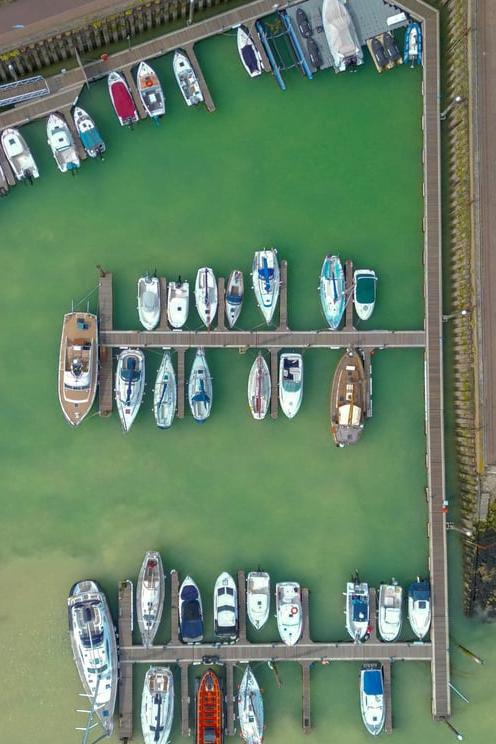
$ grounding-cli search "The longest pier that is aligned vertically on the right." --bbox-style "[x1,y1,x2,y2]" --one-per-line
[424,10,450,717]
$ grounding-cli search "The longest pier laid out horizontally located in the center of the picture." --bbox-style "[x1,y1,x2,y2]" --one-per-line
[113,330,427,348]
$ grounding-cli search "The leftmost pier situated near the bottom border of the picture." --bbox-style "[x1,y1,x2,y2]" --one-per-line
[119,581,134,740]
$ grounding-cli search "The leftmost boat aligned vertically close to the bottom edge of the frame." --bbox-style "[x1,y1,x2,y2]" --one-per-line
[64,577,118,744]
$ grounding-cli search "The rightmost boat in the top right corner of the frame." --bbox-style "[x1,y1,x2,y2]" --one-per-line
[404,21,421,71]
